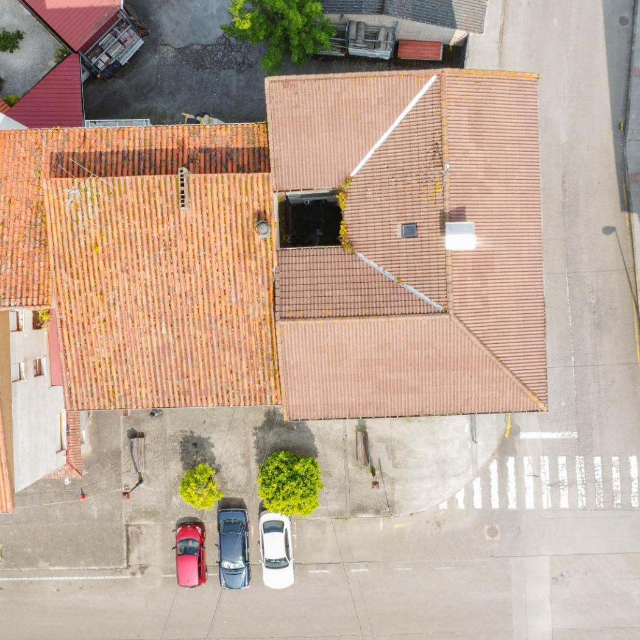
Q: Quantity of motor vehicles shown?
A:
3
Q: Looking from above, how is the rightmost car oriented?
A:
from top to bottom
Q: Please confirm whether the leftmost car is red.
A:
Yes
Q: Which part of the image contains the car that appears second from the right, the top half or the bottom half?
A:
bottom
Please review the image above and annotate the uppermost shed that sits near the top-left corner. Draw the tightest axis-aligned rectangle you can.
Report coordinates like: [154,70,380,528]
[26,0,133,67]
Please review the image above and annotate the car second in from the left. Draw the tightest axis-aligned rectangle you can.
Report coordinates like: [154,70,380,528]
[216,507,251,587]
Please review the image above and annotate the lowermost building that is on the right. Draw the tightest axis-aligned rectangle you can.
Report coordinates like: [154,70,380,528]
[264,67,551,425]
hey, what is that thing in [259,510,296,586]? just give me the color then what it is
white car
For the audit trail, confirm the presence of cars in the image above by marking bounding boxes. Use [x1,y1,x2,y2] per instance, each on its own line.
[216,507,251,587]
[259,510,296,586]
[174,521,208,587]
